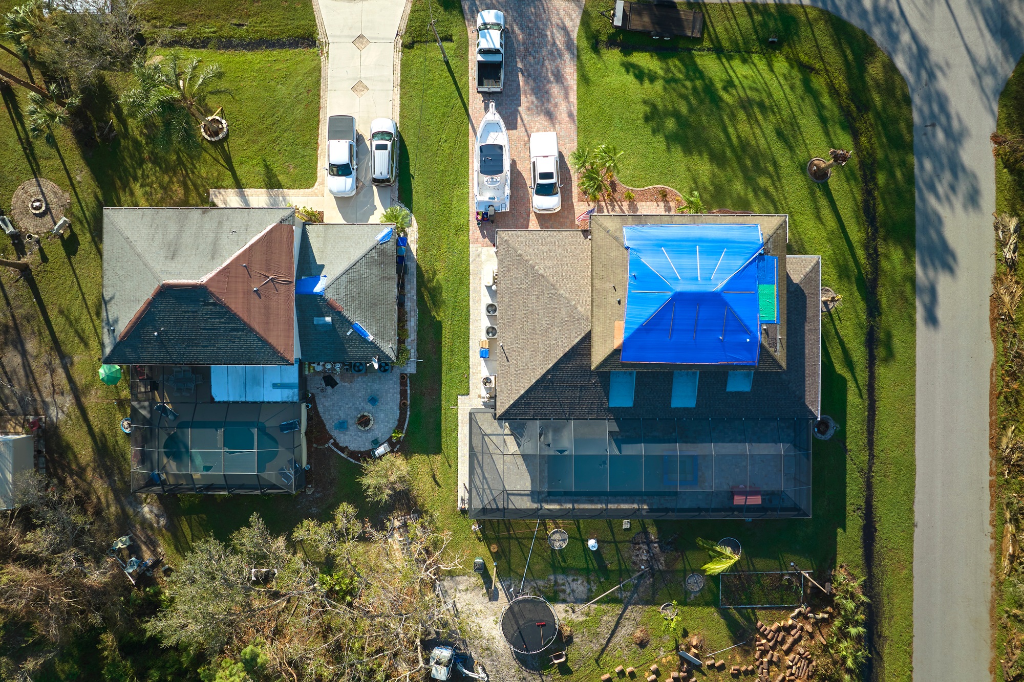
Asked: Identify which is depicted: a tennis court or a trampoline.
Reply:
trampoline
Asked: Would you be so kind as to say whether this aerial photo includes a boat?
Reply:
Yes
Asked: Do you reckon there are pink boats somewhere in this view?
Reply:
No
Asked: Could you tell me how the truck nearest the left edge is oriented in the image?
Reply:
up and down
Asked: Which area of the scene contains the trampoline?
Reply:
bottom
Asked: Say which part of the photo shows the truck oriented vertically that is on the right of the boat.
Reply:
top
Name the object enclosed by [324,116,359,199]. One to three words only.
truck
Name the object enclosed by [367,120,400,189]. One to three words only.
car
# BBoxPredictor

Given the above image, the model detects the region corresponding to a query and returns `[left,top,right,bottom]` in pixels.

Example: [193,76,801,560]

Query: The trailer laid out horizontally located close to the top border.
[602,0,701,45]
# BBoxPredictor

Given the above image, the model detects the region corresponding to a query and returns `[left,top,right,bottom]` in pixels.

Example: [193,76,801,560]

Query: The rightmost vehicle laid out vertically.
[529,132,563,215]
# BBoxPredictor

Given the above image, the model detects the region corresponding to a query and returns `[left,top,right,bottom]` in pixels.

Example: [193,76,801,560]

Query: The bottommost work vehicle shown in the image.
[429,629,486,682]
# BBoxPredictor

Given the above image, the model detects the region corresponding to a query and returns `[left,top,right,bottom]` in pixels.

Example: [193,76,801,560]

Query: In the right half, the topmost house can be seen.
[494,212,823,421]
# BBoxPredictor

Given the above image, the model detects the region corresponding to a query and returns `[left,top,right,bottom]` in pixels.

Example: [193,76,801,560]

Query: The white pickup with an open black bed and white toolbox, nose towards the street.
[473,11,507,96]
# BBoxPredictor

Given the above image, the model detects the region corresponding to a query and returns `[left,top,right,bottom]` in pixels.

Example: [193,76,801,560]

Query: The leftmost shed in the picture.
[0,435,33,510]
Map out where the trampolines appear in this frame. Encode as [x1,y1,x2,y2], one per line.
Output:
[502,593,560,659]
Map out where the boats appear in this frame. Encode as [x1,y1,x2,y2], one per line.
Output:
[474,100,510,223]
